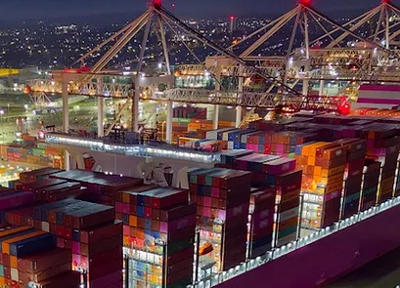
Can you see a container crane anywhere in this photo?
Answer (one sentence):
Yes, the photo shows a container crane.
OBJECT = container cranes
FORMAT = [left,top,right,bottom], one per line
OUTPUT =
[268,1,400,106]
[175,1,400,127]
[341,27,400,83]
[22,3,344,141]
